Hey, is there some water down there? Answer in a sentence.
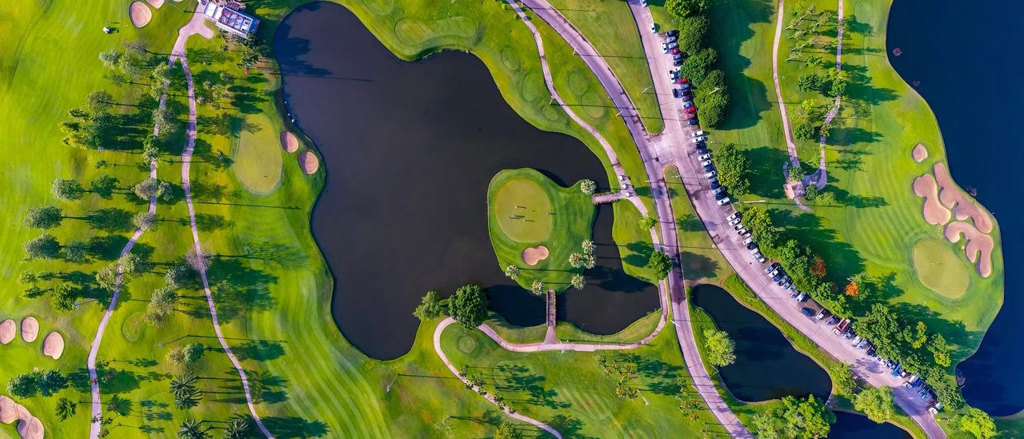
Yes, the picture does contain water.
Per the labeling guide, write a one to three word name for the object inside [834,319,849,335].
vehicle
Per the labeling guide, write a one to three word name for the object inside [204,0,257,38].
building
